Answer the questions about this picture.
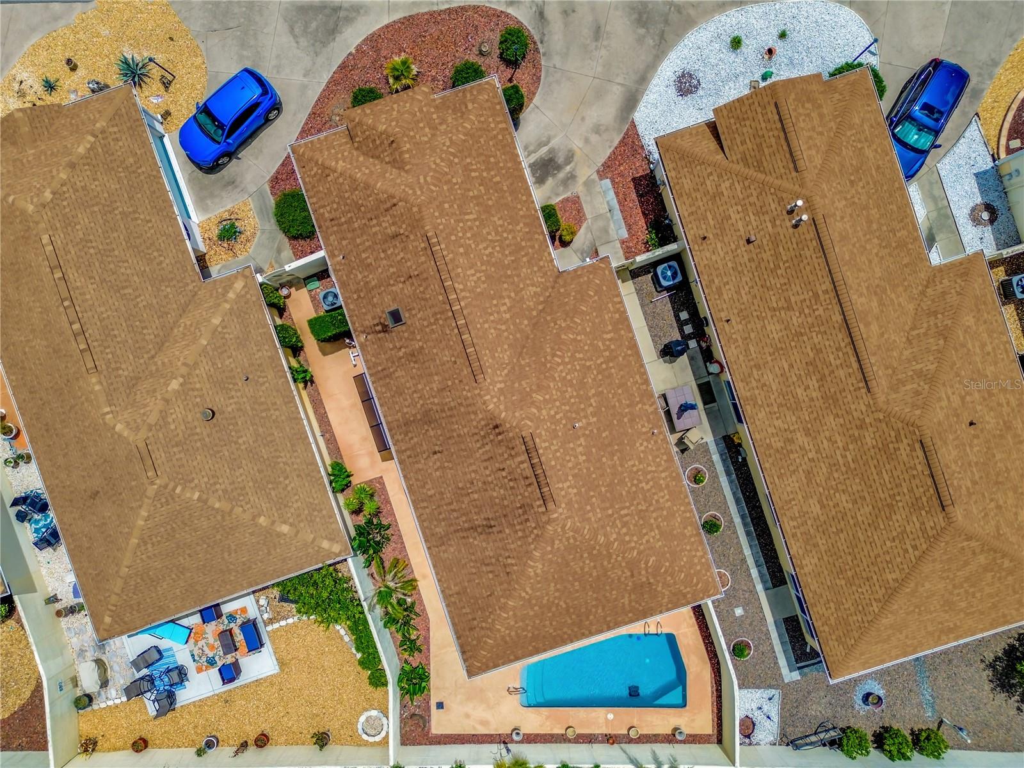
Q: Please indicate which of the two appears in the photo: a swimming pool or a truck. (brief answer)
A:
swimming pool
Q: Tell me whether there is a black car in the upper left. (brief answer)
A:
No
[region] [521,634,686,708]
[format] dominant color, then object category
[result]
blue swimming pool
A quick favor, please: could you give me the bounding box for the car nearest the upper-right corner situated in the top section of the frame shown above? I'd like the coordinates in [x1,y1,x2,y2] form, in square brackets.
[887,57,966,179]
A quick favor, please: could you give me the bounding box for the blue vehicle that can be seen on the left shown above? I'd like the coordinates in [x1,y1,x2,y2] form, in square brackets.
[181,66,283,171]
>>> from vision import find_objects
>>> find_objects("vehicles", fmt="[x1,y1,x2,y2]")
[181,66,283,171]
[887,57,966,179]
